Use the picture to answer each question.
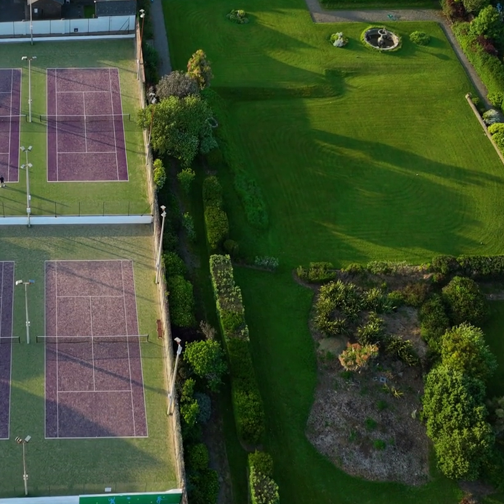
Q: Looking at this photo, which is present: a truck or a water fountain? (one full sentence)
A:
The image shows a water fountain.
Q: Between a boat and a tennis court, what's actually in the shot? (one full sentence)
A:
Of the two, only a tennis court appears.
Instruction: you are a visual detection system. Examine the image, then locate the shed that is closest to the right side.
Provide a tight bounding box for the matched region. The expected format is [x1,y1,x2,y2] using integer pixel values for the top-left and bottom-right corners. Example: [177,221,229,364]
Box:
[94,0,138,21]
